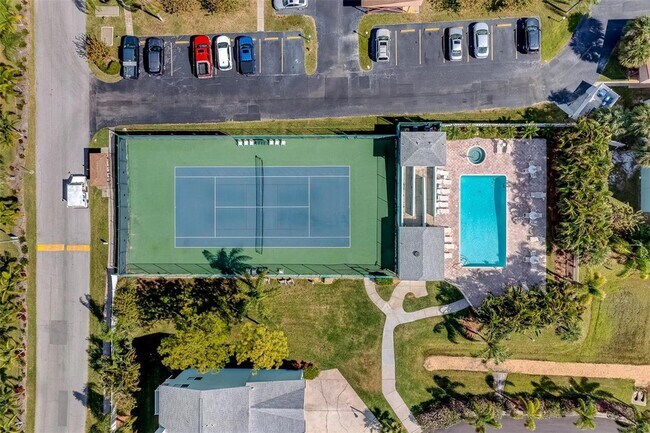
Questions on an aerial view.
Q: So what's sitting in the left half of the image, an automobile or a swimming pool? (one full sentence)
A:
There is an automobile in the left half of the image.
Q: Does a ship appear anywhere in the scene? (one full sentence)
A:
No, I can't see a single ship in this photo.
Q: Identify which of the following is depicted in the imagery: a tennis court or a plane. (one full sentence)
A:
Of the two, only a tennis court appears.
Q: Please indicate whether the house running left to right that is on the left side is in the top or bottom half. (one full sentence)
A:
It is in the bottom half that the house running left to right that is on the left side appears.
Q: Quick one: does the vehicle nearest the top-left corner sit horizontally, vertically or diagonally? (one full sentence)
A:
The vehicle nearest the top-left corner runs vertically in the image.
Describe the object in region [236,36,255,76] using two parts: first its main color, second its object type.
blue vehicle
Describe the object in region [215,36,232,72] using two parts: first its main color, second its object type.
white car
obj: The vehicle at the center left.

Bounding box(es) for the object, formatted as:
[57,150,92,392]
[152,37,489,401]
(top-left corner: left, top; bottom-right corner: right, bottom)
[64,175,88,209]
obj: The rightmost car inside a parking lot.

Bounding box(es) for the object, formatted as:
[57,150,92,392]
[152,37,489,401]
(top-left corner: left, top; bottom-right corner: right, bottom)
[520,19,540,55]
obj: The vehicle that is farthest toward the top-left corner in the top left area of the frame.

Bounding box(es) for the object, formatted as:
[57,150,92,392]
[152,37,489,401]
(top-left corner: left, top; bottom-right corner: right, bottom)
[121,37,141,79]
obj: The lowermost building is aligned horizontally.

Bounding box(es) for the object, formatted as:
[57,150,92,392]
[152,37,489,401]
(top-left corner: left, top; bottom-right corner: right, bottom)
[154,370,305,433]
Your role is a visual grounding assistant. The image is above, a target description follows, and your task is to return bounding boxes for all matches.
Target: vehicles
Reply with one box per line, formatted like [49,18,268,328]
[236,36,255,76]
[215,36,232,72]
[375,30,391,63]
[447,28,464,62]
[194,36,213,80]
[121,37,141,79]
[472,23,490,60]
[64,175,88,209]
[520,19,540,55]
[145,38,164,76]
[273,0,310,11]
